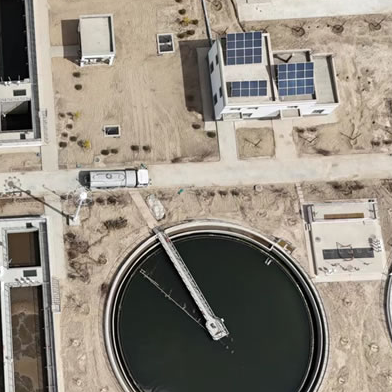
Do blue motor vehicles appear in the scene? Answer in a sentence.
No, I can't see a single blue motor vehicle in this photo.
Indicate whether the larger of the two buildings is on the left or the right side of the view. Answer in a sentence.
The larger of the two buildings appears in the right half of the scene.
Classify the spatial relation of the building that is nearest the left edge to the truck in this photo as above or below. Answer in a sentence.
You can see the building that is nearest the left edge above the truck in the frame.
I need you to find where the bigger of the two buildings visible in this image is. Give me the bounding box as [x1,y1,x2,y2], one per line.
[208,33,344,126]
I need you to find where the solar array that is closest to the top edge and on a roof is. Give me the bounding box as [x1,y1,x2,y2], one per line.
[225,33,264,65]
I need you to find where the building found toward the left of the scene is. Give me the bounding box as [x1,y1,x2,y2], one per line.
[77,14,116,66]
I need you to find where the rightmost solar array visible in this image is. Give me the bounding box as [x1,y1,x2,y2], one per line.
[277,65,316,96]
